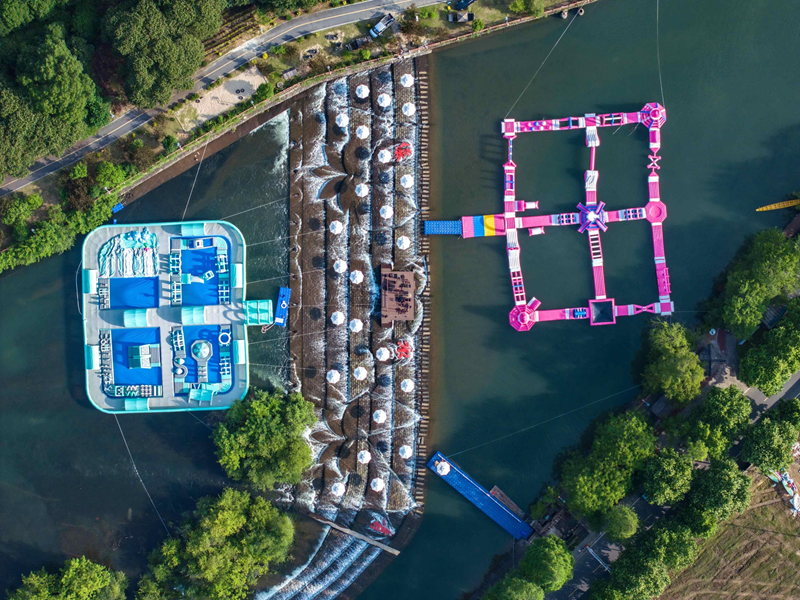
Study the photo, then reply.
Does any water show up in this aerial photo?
Yes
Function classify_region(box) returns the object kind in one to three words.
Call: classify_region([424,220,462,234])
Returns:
pier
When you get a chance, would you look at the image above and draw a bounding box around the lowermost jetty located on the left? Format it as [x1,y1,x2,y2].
[274,287,291,326]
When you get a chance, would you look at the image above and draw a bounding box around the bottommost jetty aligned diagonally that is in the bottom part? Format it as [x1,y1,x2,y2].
[427,452,527,538]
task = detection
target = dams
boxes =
[259,51,431,600]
